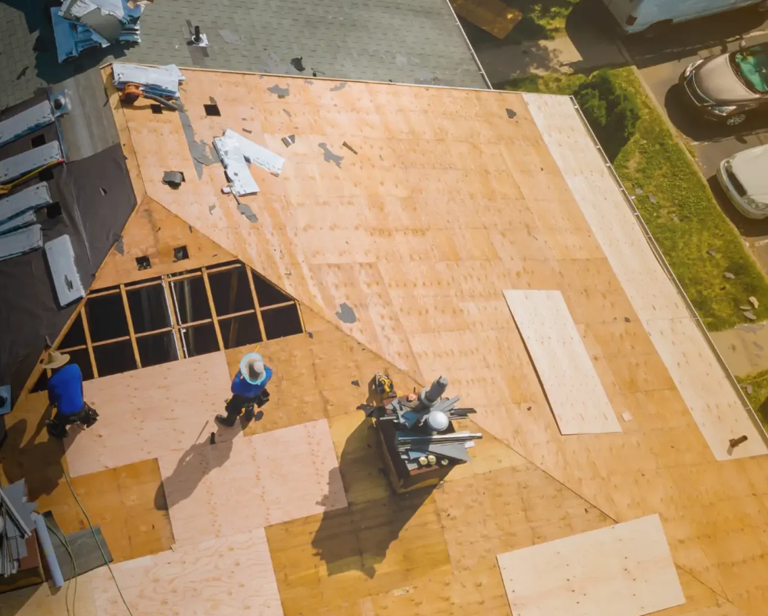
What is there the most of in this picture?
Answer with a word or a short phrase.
buildings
